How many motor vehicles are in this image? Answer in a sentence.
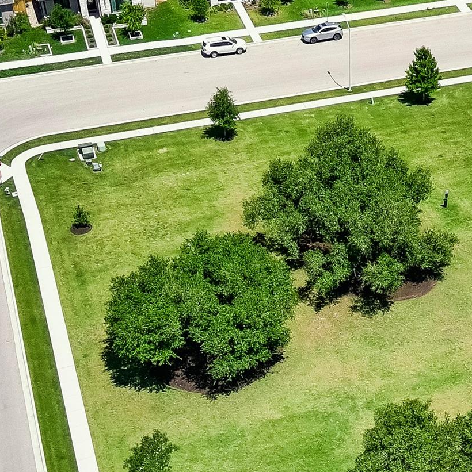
The photo contains 2 motor vehicles.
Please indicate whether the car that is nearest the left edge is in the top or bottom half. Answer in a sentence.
The top half of the photo is where the car that is nearest the left edge is.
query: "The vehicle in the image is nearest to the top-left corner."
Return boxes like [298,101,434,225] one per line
[200,35,249,59]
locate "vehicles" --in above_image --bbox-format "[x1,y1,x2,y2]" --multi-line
[300,20,347,44]
[200,35,249,59]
